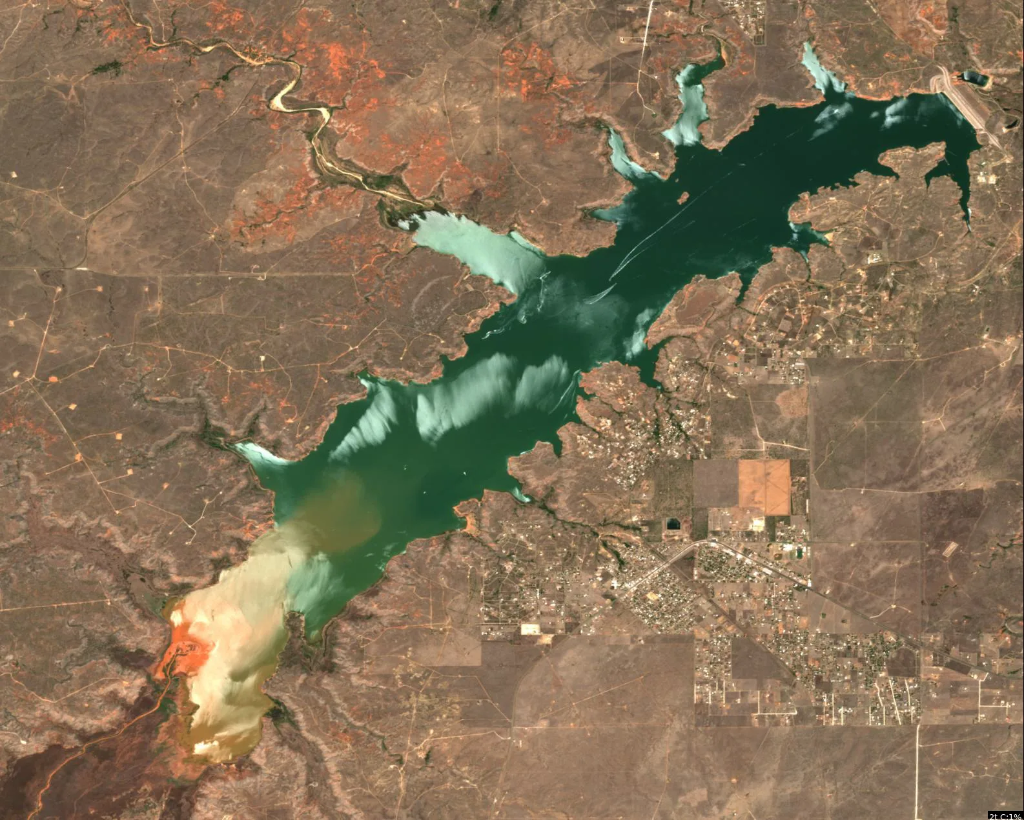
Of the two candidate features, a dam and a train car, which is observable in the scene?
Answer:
dam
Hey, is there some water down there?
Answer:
Yes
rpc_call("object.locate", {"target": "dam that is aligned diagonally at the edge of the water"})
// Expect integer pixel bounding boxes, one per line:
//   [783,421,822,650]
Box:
[931,63,1008,159]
